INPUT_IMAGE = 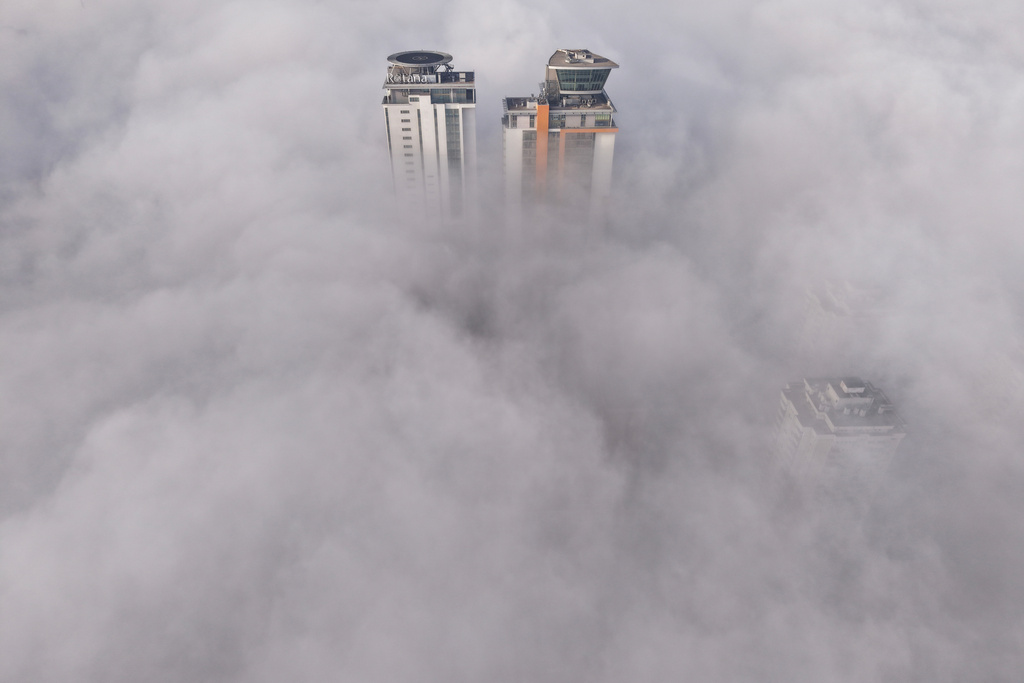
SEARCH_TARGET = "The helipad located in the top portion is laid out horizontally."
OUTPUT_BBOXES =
[387,49,453,82]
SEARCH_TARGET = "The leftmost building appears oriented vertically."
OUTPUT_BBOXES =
[382,49,481,321]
